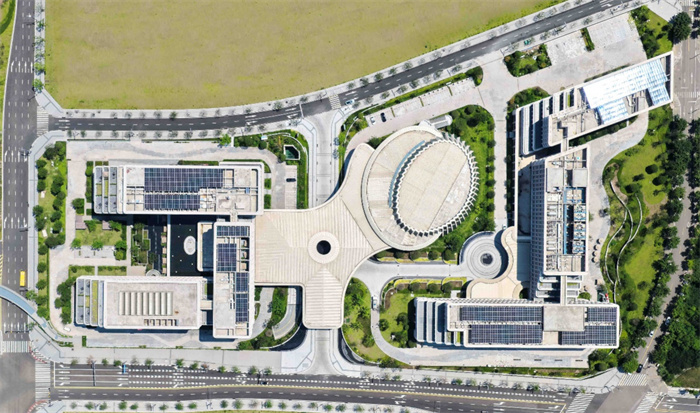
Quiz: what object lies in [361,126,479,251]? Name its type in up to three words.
building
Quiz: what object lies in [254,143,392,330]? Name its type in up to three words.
building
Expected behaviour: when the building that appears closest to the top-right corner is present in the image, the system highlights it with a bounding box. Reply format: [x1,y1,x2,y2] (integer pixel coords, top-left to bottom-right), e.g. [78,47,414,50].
[510,52,672,156]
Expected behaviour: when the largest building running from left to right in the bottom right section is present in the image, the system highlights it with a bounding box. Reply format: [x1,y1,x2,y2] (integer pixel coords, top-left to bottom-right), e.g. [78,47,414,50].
[414,295,619,348]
